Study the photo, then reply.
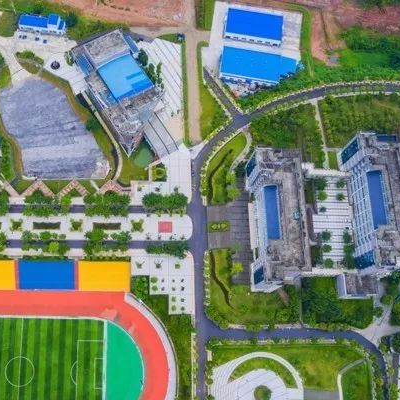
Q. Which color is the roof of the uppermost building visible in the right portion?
blue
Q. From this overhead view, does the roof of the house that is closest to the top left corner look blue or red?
blue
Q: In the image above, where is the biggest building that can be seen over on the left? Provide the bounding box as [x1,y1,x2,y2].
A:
[72,28,167,160]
